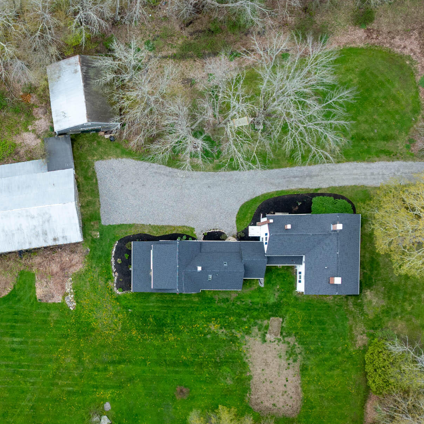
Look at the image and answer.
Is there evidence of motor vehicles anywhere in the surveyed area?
No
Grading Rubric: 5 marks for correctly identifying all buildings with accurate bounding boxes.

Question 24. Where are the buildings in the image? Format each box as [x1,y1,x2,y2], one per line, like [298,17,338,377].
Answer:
[131,213,361,295]
[0,160,83,253]
[46,54,120,135]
